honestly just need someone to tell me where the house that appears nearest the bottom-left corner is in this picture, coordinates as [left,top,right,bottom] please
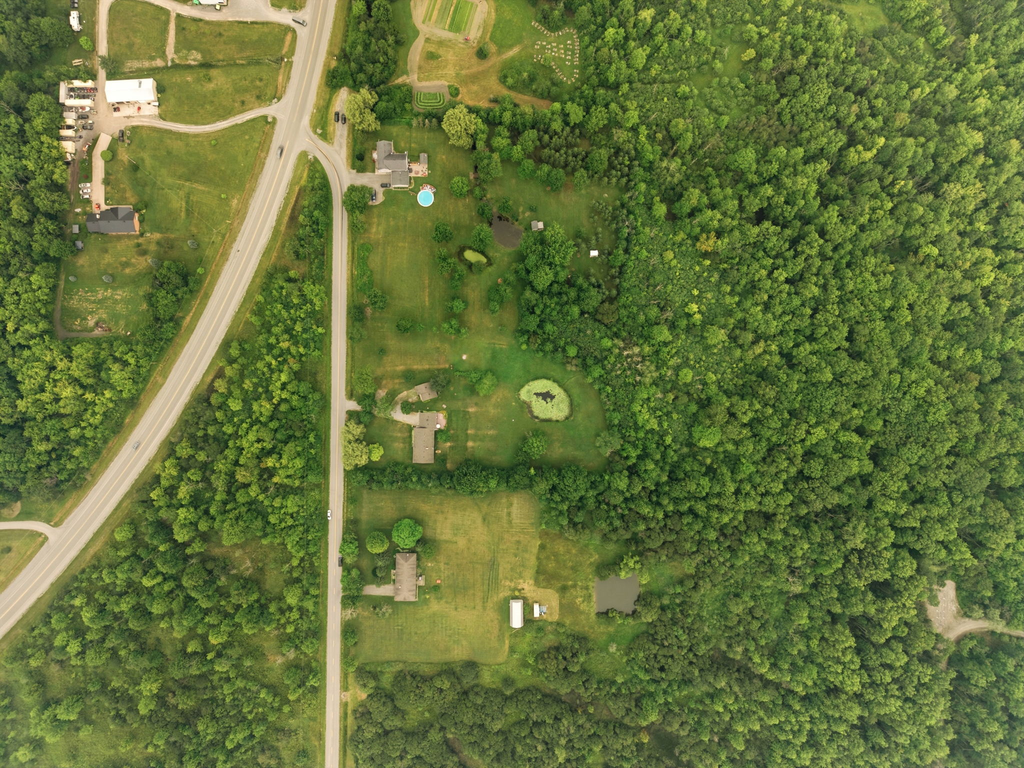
[392,554,416,602]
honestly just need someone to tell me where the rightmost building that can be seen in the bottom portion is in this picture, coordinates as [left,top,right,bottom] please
[510,598,523,630]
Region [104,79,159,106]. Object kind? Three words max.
building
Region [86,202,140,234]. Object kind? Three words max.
house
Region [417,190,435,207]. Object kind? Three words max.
swimming pool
